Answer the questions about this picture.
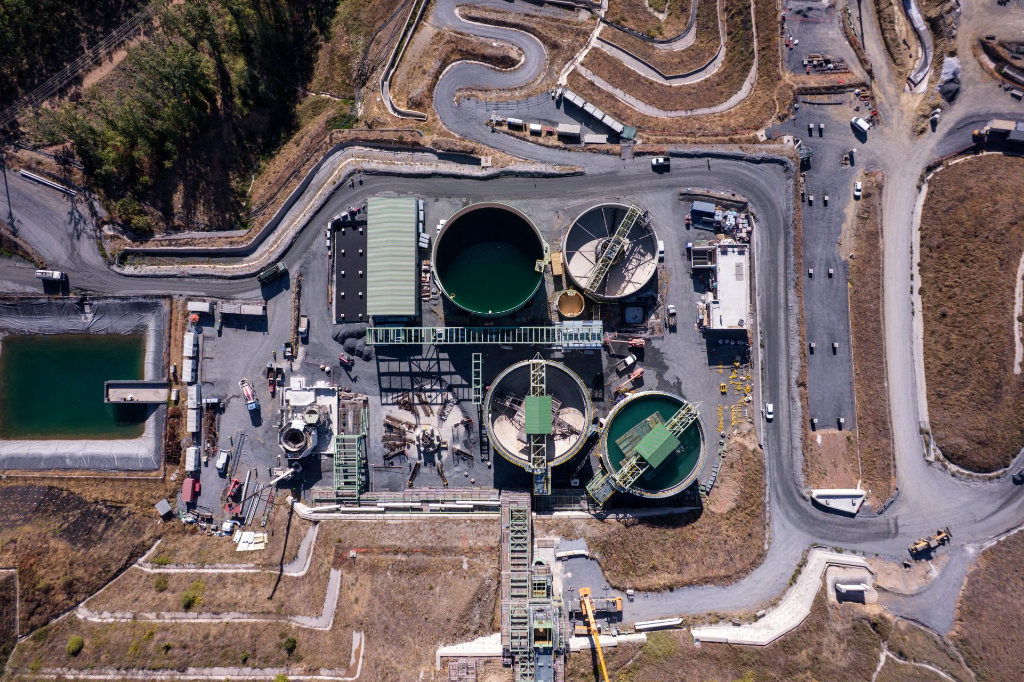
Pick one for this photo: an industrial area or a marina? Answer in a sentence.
This looks like an industrial area.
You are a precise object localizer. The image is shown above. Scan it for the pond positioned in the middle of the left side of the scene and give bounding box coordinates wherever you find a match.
[0,298,170,470]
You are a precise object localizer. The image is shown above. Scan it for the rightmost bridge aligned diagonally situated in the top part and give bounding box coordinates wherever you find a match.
[584,205,641,291]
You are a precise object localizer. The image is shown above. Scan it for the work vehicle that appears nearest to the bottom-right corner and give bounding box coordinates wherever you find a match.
[912,526,948,552]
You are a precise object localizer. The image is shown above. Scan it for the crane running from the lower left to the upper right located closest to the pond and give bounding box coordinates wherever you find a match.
[227,459,308,514]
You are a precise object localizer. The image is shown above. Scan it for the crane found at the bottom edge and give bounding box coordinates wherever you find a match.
[569,585,619,682]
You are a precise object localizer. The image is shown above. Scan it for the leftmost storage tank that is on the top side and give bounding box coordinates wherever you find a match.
[431,201,551,319]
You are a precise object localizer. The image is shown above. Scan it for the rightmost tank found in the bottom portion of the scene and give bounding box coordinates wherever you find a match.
[581,391,708,504]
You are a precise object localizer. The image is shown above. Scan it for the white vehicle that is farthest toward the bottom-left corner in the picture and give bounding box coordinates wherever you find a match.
[214,449,232,473]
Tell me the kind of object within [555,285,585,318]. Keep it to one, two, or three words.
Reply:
storage tank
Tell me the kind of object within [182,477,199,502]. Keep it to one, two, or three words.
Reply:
building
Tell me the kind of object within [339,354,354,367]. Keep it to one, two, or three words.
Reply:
vehicle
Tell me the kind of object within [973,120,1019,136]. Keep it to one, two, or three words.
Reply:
vehicle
